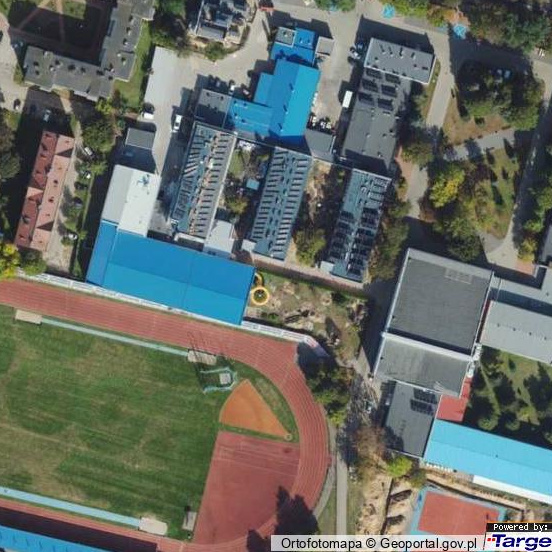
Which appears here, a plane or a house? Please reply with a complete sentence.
Of the two, only a house appears.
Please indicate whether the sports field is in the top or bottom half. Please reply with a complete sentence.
The sports field sits in the bottom half of the picture.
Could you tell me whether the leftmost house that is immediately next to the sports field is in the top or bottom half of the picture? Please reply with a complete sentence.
The leftmost house that is immediately next to the sports field is in the top half of the image.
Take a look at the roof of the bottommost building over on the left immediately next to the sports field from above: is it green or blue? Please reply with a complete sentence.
In this view, the roof of the bottommost building over on the left immediately next to the sports field is blue.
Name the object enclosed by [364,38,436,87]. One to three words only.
building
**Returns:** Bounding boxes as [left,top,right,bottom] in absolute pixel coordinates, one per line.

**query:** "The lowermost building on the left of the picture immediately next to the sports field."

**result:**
[88,220,256,326]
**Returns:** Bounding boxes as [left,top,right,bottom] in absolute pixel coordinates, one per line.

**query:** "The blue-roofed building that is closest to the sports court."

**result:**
[423,419,552,505]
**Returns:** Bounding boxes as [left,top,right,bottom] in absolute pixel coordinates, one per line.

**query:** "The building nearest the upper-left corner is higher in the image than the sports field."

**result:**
[24,0,157,103]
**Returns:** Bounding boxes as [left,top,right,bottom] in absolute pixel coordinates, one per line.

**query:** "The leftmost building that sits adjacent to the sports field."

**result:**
[14,130,76,253]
